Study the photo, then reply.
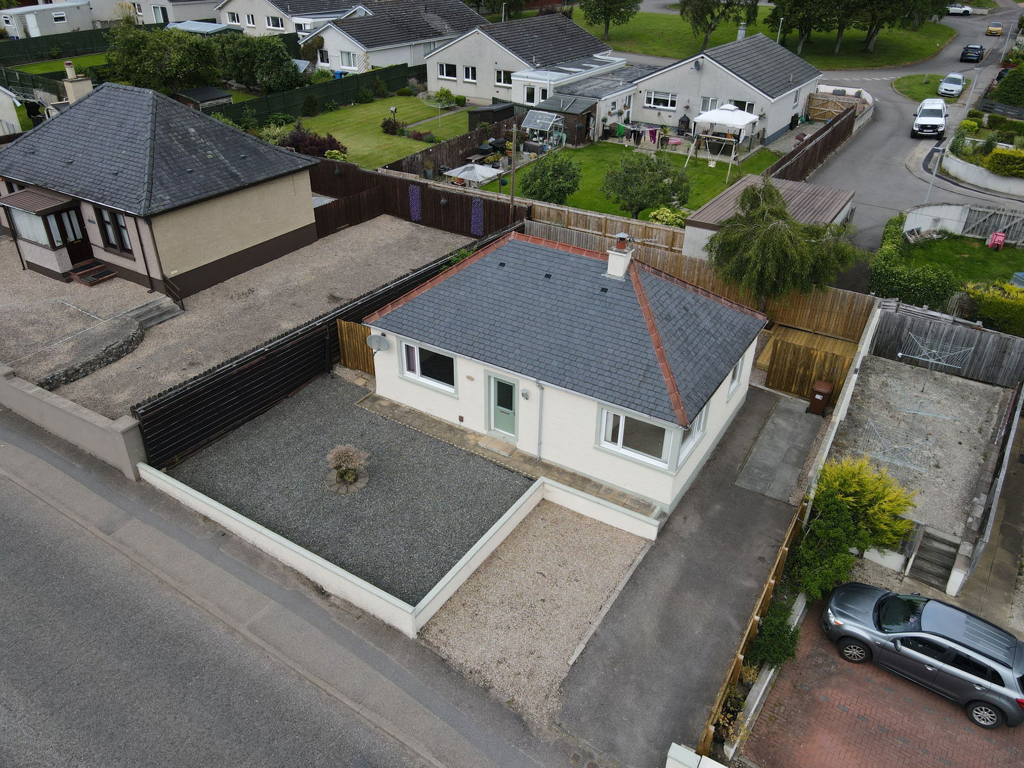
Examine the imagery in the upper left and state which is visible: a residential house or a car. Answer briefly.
residential house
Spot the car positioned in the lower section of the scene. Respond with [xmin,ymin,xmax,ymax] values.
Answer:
[823,584,1024,734]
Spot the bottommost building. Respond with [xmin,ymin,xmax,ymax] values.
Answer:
[358,229,770,514]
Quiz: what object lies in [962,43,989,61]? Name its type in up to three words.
car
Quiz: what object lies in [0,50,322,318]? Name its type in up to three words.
house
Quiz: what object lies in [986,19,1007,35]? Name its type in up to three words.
car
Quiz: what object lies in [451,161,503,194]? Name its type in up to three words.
gazebo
